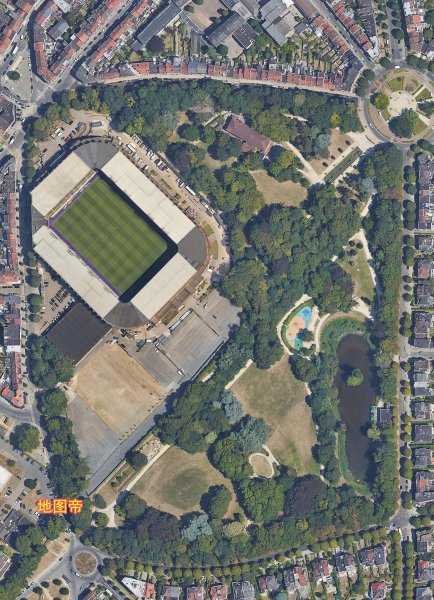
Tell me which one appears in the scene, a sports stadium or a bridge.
sports stadium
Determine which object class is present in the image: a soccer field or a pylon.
soccer field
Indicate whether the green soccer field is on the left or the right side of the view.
left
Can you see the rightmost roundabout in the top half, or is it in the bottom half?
top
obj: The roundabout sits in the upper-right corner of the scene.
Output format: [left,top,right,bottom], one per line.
[360,60,434,149]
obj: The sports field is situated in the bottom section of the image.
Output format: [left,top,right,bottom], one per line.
[75,342,166,440]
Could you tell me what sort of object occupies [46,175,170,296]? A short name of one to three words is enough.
soccer field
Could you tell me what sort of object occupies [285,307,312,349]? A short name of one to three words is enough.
playground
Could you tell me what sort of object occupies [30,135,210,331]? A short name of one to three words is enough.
stadium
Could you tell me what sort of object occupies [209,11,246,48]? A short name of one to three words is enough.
building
